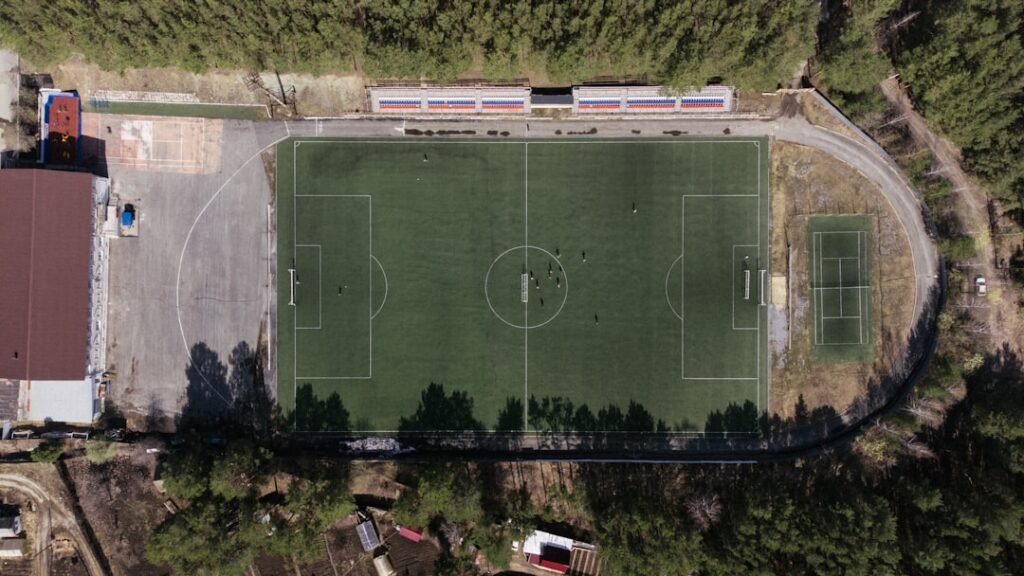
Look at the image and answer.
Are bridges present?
No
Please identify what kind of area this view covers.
sports ground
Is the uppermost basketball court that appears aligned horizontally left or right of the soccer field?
on the left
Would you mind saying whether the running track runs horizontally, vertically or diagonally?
horizontally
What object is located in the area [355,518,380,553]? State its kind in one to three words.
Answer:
shed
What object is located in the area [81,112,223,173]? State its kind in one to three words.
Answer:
basketball court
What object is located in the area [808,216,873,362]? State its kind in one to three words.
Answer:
tennis court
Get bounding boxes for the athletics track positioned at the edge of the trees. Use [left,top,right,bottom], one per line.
[177,115,944,457]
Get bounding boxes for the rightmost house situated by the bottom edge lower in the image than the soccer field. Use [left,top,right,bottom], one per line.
[523,525,574,576]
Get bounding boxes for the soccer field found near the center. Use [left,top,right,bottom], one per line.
[276,137,771,437]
